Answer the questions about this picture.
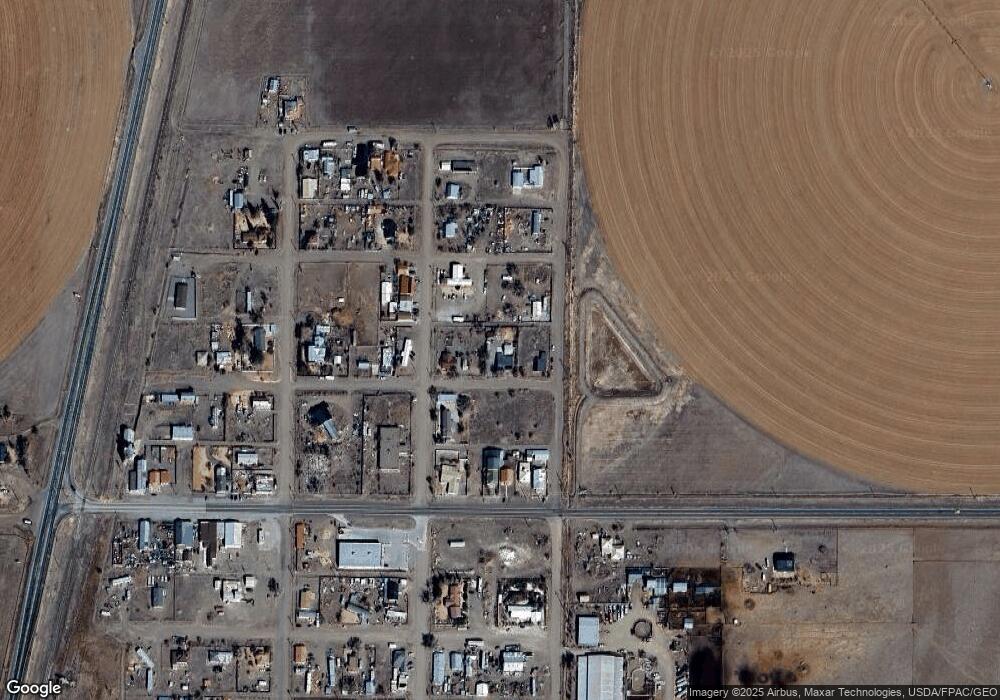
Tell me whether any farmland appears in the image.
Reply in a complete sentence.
Yes, farmland can be seen from above here.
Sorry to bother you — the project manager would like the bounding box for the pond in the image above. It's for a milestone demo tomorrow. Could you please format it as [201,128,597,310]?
[578,291,668,402]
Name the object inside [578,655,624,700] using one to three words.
barn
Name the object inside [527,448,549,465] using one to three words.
house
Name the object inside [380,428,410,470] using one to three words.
shed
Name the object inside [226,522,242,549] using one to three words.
building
